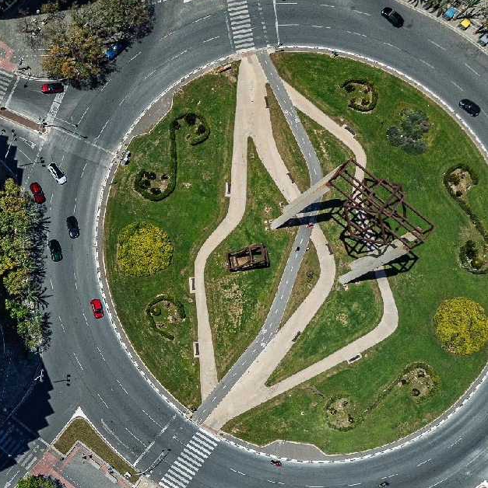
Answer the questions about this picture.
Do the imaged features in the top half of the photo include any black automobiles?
Yes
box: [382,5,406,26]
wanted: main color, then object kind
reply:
black car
